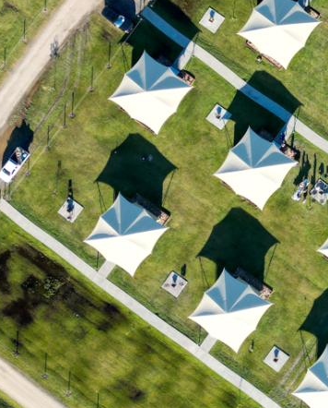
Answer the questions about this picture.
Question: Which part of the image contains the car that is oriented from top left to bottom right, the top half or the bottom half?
top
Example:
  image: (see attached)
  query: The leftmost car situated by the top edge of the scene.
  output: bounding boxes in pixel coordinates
[102,5,133,31]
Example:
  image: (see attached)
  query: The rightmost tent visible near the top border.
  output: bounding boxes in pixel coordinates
[237,0,328,77]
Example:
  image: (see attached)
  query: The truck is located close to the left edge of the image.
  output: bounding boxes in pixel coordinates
[0,149,28,180]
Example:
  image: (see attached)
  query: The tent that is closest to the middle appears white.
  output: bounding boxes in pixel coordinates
[89,181,189,278]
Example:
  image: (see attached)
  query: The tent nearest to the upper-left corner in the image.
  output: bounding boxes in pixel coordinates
[113,44,211,144]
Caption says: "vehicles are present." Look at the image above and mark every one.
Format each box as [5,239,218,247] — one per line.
[102,5,133,31]
[0,149,28,180]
